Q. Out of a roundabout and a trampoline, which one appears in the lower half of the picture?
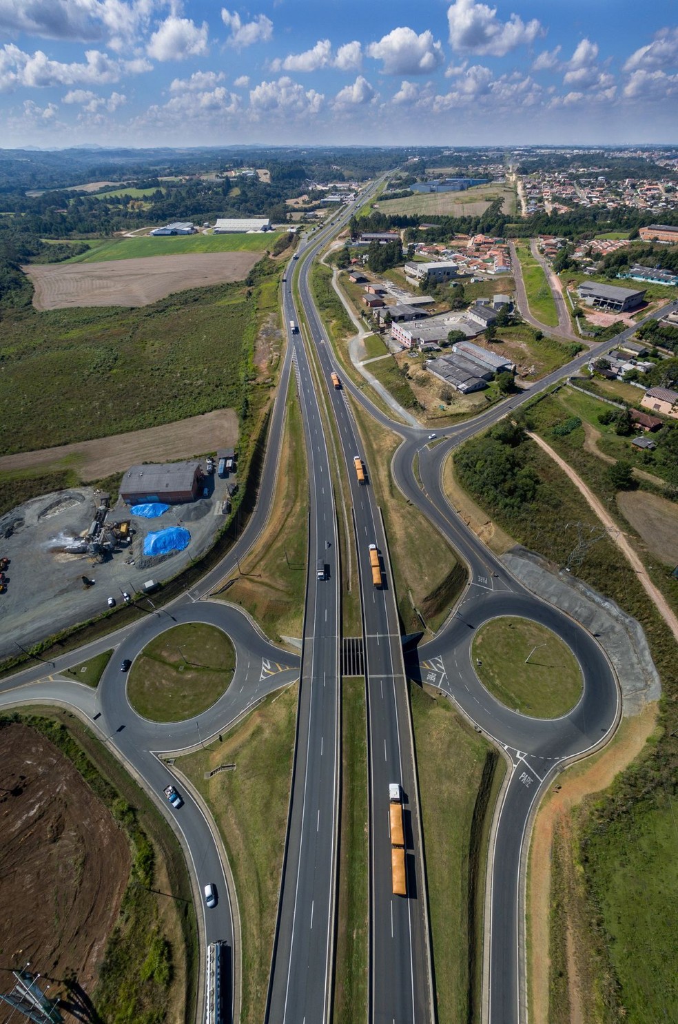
roundabout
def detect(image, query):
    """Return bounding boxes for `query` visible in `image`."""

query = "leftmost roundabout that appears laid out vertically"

[0,335,302,1024]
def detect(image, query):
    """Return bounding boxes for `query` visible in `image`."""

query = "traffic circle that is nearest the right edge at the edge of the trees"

[327,297,678,1024]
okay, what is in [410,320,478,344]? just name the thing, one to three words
building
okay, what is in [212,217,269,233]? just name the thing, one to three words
shed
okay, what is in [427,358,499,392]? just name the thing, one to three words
building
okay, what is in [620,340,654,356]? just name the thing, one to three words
house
